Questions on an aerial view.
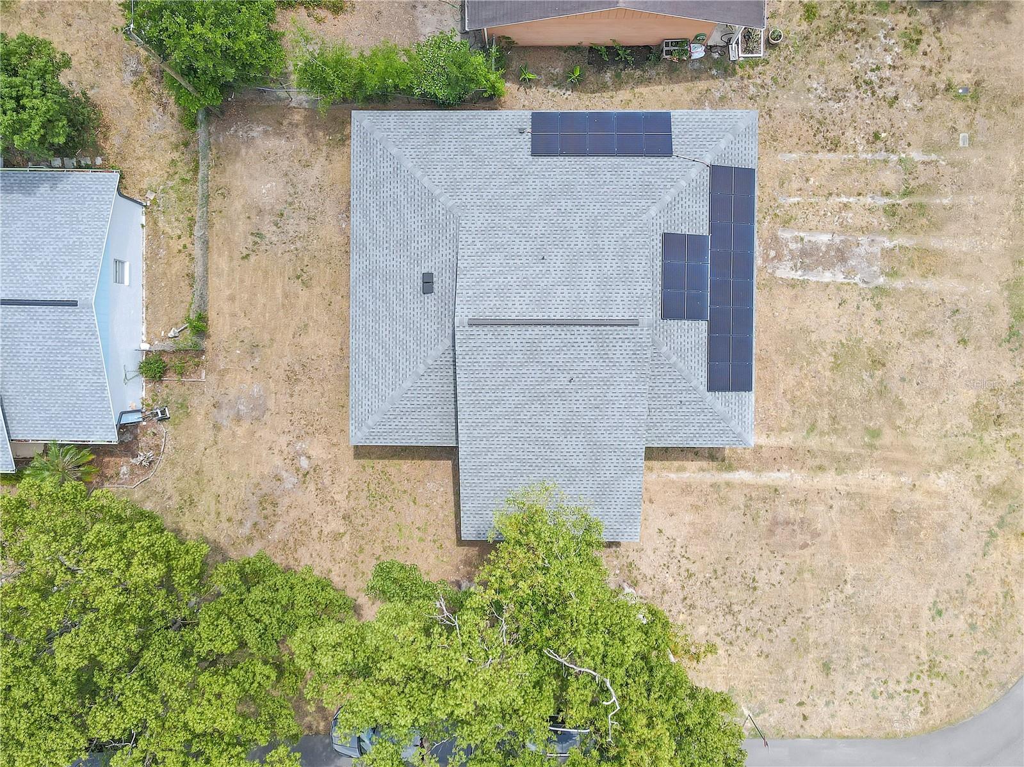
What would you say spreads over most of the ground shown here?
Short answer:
grass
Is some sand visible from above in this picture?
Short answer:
No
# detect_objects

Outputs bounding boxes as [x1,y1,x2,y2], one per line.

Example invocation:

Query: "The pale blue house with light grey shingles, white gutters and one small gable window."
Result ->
[0,168,149,477]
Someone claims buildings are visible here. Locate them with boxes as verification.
[0,168,149,477]
[465,0,768,54]
[348,107,758,541]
